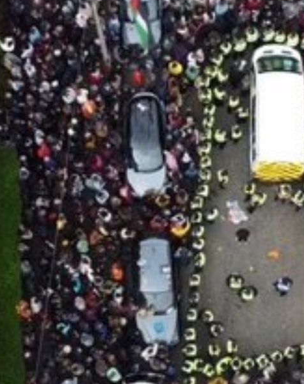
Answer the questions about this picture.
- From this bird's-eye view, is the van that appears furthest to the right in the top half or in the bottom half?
top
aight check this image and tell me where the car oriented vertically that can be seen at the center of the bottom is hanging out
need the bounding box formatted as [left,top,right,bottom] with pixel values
[133,237,184,346]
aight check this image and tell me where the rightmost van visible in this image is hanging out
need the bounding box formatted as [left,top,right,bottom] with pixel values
[247,46,304,184]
